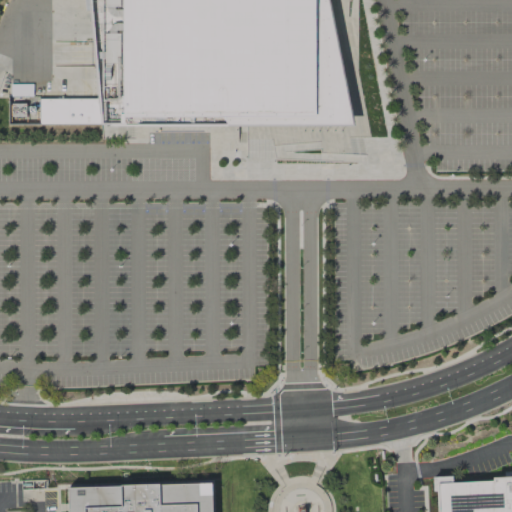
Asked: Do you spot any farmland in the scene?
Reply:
No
